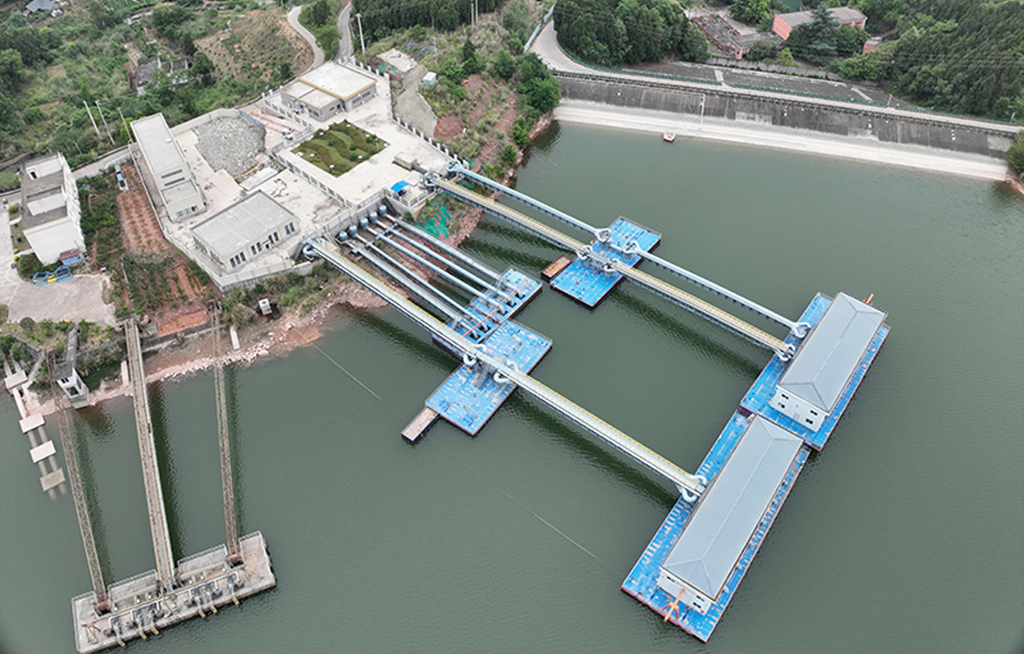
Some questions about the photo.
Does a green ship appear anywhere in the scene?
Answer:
No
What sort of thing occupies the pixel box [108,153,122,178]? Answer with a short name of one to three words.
vehicle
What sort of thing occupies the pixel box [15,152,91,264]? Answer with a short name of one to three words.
house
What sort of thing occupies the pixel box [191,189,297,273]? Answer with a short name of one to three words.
building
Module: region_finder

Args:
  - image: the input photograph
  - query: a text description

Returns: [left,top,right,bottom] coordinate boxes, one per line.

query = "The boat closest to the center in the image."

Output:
[542,256,571,278]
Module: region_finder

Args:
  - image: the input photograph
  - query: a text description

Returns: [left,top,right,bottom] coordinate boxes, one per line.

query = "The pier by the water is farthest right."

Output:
[550,213,661,311]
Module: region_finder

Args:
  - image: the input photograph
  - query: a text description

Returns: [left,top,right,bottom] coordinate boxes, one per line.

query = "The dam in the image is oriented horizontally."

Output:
[548,55,1024,184]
